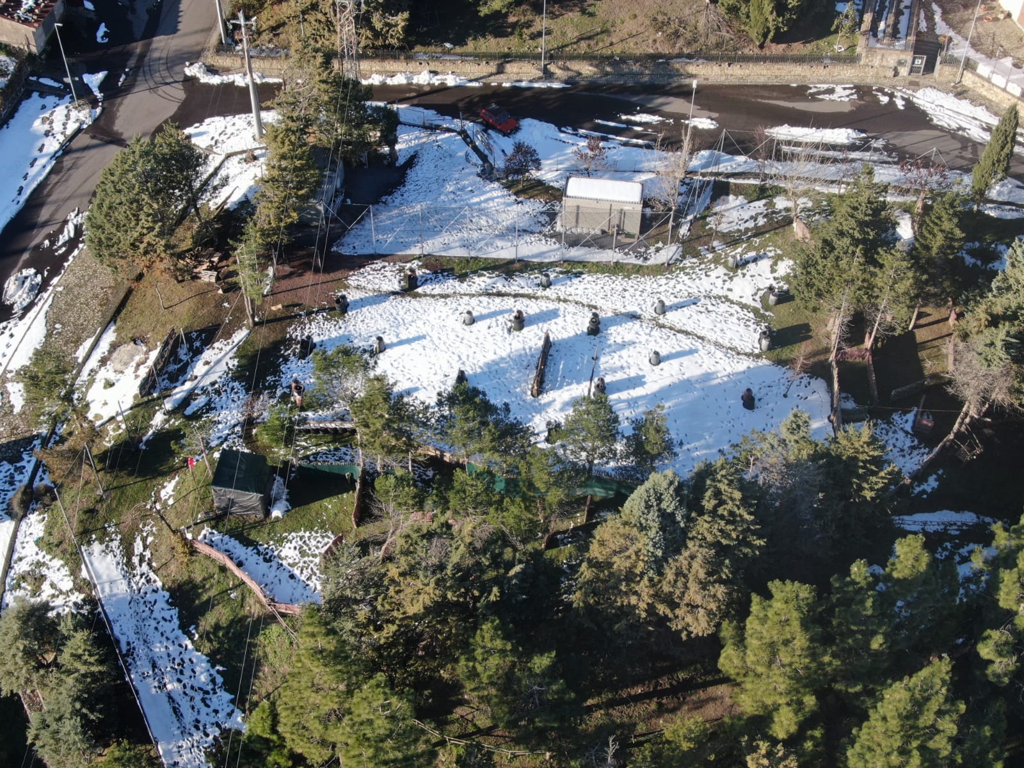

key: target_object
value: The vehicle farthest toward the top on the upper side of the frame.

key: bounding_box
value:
[474,98,523,134]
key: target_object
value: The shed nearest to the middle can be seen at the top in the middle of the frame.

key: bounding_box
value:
[556,175,647,241]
